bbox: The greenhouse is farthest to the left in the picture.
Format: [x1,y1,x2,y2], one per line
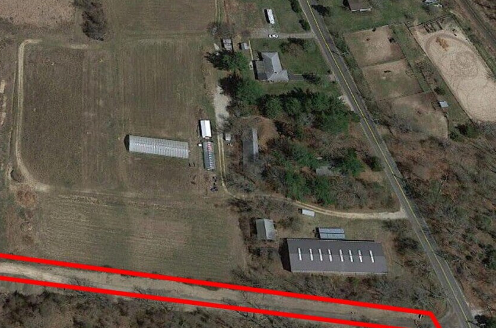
[128,133,190,158]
